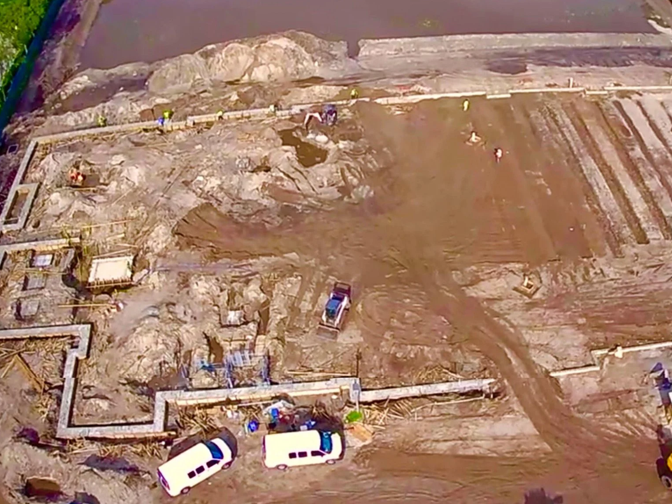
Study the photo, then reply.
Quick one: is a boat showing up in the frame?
No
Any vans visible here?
Yes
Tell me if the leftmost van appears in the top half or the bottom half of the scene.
bottom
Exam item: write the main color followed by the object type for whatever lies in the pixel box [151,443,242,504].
white van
